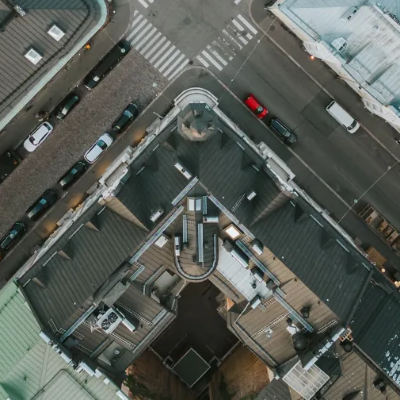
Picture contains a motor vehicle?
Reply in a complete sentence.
Yes, the photo shows a motor vehicle.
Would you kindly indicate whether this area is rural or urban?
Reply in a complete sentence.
The area shown here is urban.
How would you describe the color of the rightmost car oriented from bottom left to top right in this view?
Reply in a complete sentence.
From above, the rightmost car oriented from bottom left to top right appears black.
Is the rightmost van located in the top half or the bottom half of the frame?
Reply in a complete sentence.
It is in the top half that the rightmost van appears.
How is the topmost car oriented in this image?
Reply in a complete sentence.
I'd say the topmost car is aligned on a diagonal in the picture.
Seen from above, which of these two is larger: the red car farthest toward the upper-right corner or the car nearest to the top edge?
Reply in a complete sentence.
It is the car nearest to the top edge that is larger, not the red car farthest toward the upper-right corner.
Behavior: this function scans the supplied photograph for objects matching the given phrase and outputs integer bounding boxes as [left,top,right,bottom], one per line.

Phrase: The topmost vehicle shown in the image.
[80,37,135,92]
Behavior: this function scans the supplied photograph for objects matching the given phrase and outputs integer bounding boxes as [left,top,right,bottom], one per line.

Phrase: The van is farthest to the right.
[323,99,362,137]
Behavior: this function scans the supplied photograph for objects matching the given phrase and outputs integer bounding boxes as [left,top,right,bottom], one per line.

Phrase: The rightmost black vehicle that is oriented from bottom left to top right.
[108,100,144,136]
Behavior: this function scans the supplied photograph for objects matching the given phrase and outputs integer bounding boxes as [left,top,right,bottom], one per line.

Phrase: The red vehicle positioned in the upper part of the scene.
[241,90,271,121]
